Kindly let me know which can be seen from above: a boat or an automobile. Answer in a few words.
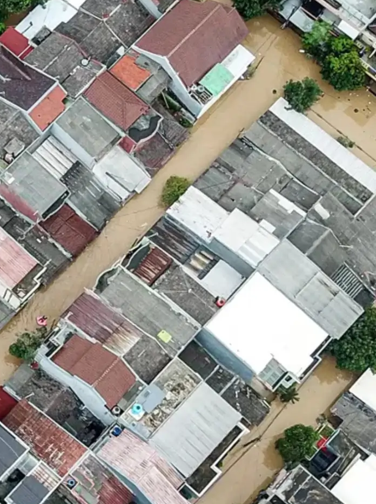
automobile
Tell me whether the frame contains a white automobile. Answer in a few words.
No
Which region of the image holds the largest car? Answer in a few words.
bottom right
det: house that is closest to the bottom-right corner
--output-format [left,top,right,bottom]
[324,449,376,504]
